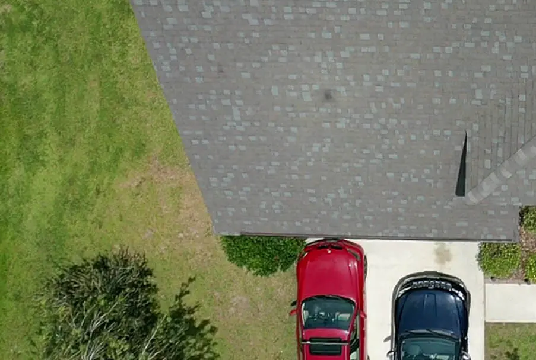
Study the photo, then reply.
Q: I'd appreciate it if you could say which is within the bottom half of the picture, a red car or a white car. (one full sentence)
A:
You can see a red car within the bottom half of the picture.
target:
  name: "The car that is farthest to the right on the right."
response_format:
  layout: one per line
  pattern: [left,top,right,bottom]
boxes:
[386,274,473,360]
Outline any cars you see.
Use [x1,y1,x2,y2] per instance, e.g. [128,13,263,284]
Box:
[284,240,367,360]
[386,274,473,360]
